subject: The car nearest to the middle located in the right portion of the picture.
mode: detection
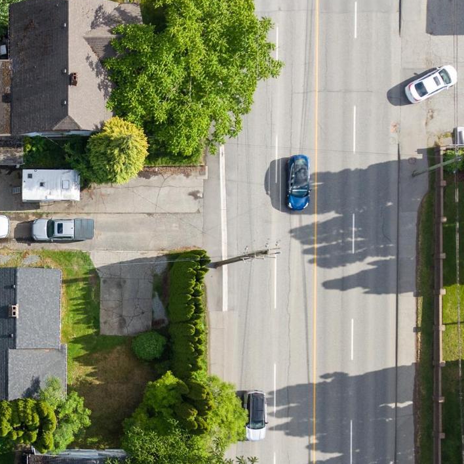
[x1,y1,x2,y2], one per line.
[285,155,313,212]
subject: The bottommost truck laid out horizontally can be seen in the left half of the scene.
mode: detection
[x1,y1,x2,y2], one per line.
[31,216,94,244]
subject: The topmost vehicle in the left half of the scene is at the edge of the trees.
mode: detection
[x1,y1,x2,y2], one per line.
[22,170,89,204]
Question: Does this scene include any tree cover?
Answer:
Yes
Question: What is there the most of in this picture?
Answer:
paved ground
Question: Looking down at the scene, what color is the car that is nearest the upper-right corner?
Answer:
white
